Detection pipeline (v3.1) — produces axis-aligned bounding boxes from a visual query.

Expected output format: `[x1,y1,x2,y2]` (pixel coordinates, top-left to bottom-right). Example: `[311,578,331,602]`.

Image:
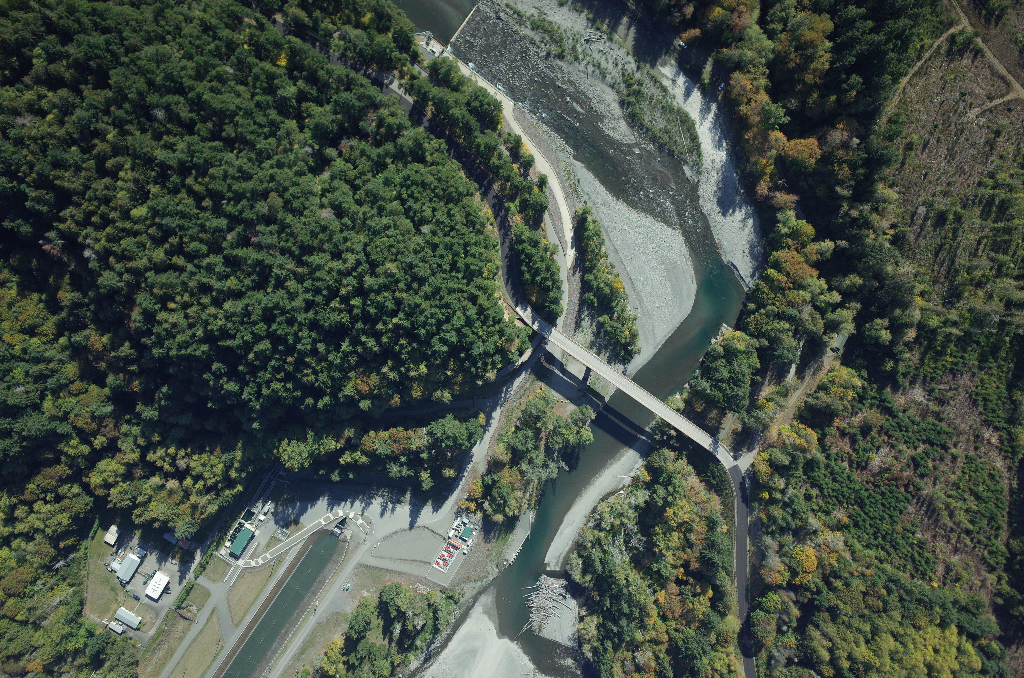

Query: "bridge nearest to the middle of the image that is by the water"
[516,301,738,470]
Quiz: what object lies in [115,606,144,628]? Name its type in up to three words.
house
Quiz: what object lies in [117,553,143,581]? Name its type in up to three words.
building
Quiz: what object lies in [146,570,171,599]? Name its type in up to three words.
house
